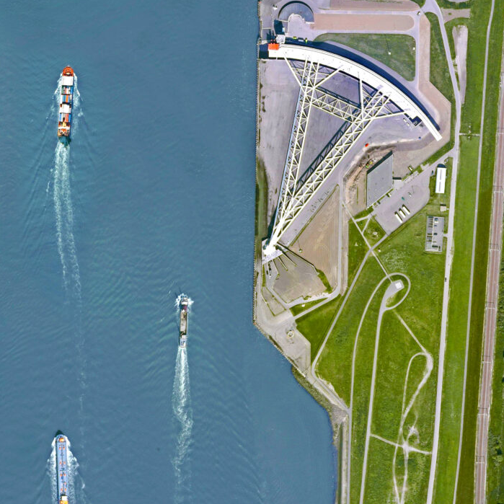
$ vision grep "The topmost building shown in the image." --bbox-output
[279,1,314,34]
